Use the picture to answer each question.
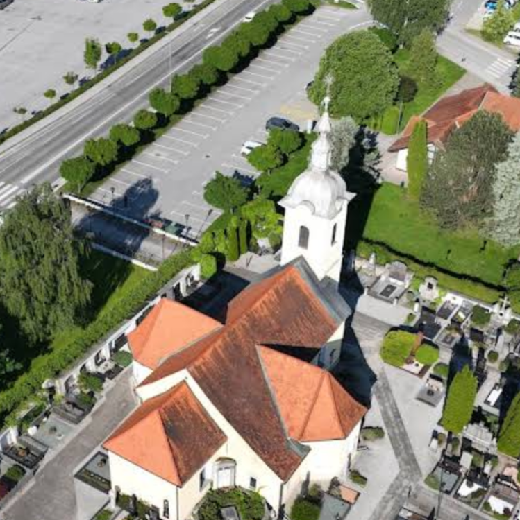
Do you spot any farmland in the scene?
No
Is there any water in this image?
No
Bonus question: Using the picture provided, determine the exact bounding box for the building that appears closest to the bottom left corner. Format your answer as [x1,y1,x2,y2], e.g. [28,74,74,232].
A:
[100,71,368,520]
